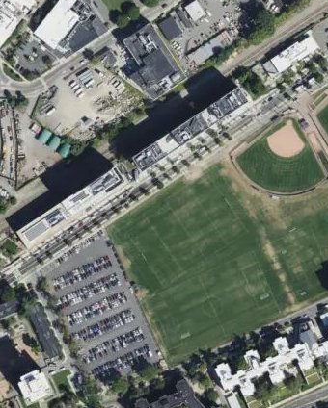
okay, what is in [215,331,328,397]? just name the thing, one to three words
building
